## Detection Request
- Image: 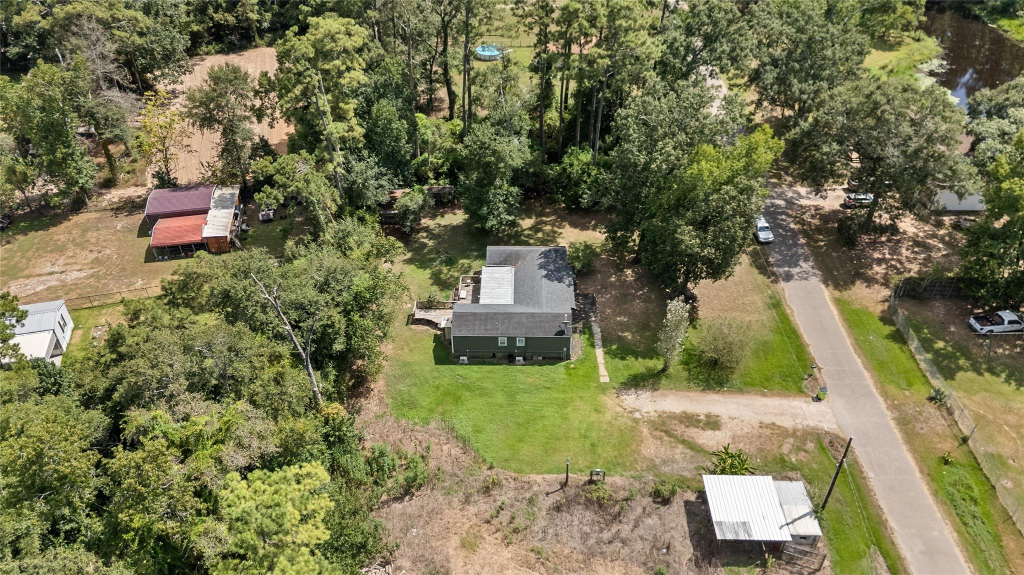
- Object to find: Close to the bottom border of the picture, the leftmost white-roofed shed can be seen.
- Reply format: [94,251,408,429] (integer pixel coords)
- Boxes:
[699,475,791,566]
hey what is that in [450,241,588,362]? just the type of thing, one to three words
house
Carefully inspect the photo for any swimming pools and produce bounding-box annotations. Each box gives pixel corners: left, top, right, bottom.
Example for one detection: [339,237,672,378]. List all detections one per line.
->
[476,45,508,62]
